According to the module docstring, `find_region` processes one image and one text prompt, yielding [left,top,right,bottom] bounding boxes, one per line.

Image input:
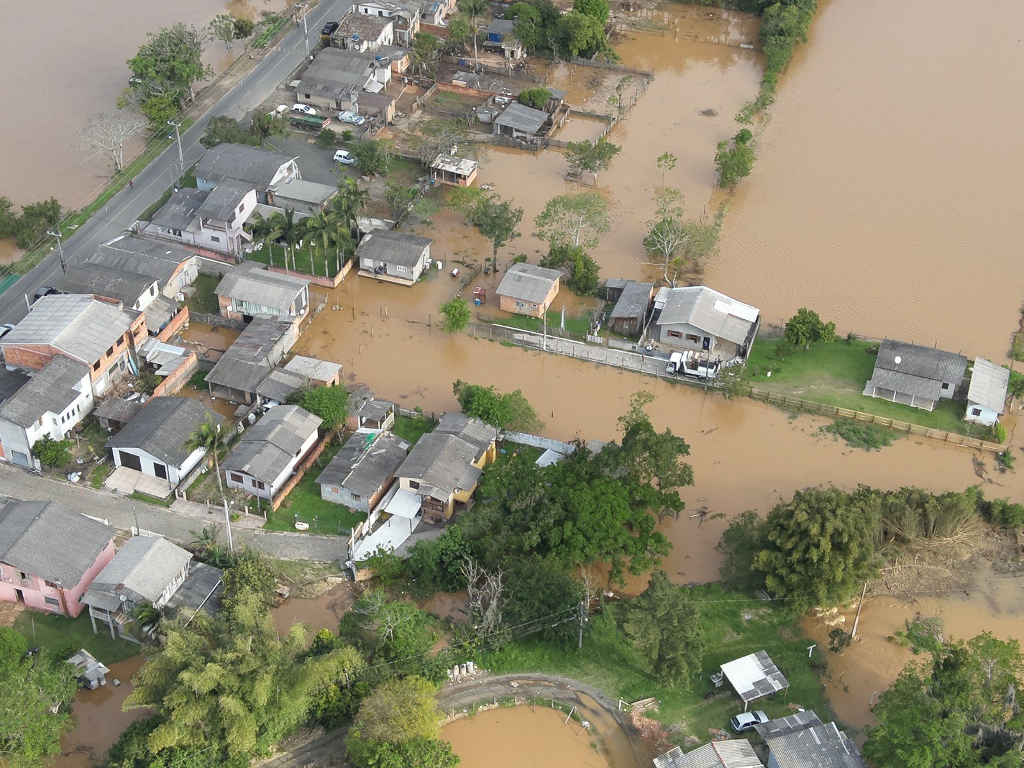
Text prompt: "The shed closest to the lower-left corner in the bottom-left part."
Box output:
[67,649,108,691]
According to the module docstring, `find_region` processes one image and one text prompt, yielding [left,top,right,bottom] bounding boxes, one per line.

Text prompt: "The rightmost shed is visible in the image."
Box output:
[966,358,1013,427]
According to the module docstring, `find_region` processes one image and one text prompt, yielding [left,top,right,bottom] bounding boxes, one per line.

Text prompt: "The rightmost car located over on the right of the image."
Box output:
[732,709,770,732]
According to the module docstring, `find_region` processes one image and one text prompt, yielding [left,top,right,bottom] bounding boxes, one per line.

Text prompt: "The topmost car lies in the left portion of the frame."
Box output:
[319,18,342,32]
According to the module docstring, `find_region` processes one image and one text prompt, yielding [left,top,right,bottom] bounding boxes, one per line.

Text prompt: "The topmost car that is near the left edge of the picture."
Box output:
[27,281,58,299]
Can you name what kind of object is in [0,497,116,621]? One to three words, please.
house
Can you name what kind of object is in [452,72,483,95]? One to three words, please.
shed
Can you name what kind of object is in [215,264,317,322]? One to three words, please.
building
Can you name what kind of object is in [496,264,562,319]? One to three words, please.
house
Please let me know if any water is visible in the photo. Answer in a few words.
Yes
